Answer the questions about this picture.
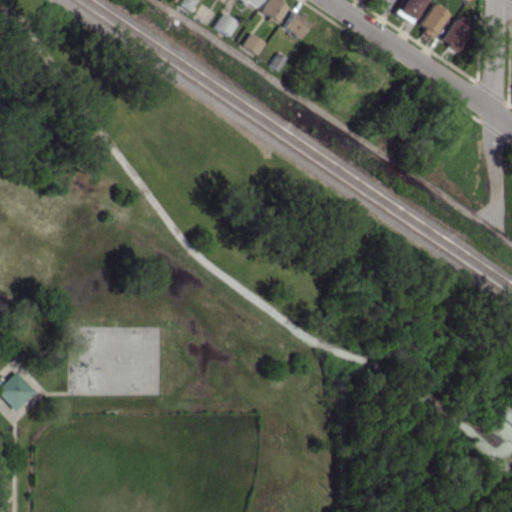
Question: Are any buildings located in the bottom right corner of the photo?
No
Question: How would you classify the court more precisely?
basketball court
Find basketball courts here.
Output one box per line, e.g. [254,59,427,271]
[69,327,160,396]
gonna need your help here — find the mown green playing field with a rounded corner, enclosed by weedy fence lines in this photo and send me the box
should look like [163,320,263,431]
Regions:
[33,412,257,512]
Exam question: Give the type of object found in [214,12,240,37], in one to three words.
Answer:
building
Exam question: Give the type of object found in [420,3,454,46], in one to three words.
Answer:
house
